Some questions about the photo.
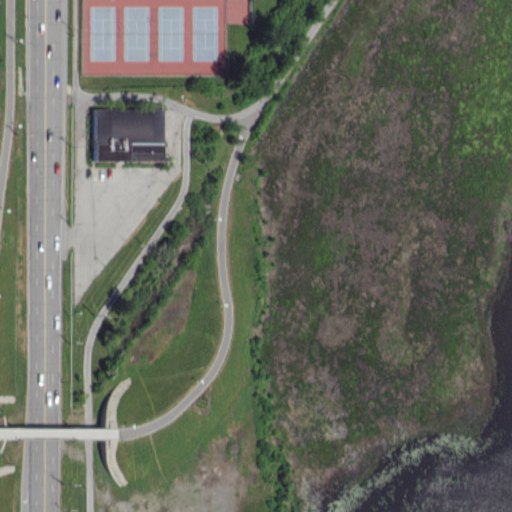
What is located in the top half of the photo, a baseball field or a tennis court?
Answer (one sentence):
What appears in the top half of the photo is a tennis court.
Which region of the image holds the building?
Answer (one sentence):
The building is in the top left part of the image.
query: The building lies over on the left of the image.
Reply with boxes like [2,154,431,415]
[93,110,166,163]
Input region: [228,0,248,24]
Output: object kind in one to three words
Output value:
sports court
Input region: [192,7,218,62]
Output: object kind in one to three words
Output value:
tennis court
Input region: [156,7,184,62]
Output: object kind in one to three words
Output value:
tennis court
